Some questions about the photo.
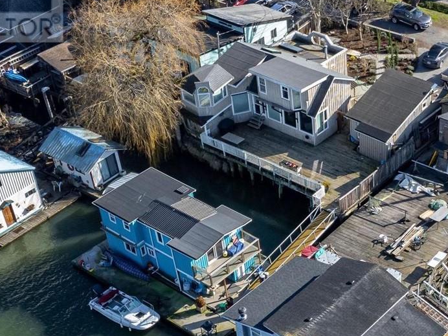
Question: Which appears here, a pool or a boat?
boat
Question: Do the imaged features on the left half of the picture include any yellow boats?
No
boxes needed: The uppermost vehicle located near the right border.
[388,0,434,29]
